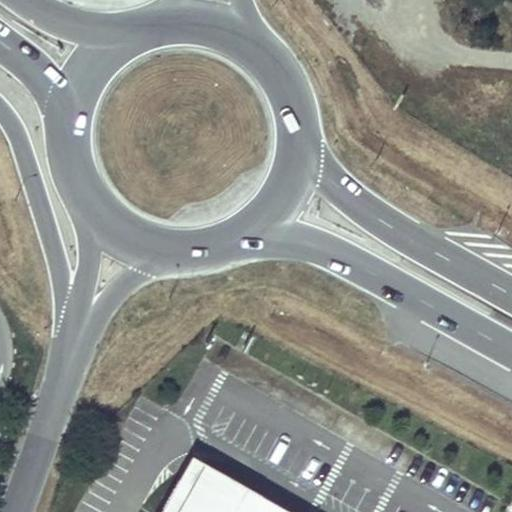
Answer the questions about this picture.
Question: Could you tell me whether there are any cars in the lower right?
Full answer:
Yes, looking in the lower right, one can make out a car.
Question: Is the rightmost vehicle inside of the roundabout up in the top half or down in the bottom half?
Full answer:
The top half of the photo is where the rightmost vehicle inside of the roundabout is.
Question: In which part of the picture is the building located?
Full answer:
The building is located in the bottom region of the scene.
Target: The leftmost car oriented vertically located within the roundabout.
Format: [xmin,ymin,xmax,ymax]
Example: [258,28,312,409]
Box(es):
[74,113,86,134]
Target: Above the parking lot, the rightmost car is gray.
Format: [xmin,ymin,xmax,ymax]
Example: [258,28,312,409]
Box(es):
[436,316,457,331]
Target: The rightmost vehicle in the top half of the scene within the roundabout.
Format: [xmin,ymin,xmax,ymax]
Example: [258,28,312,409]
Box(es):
[280,106,300,132]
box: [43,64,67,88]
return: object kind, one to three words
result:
vehicle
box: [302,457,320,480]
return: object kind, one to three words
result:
car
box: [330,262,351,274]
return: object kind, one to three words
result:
vehicle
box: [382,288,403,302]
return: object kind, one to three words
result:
car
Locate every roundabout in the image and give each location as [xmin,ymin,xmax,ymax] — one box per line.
[47,0,321,274]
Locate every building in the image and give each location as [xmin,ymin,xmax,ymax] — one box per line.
[160,456,291,512]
